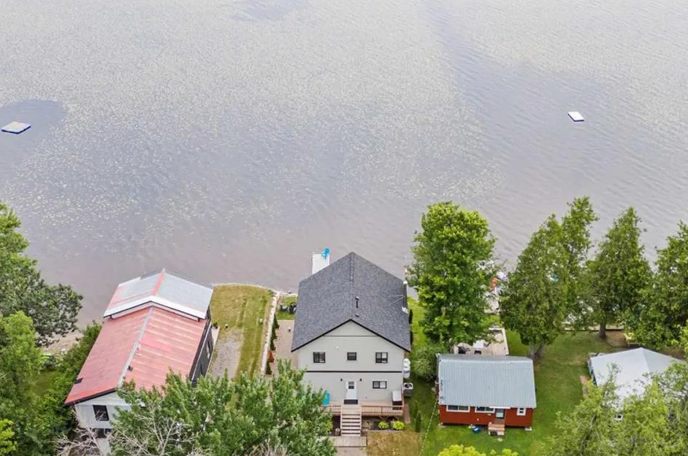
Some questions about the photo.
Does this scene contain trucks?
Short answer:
No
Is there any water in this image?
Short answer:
Yes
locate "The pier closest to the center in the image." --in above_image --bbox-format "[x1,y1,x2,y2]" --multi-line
[311,249,331,275]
